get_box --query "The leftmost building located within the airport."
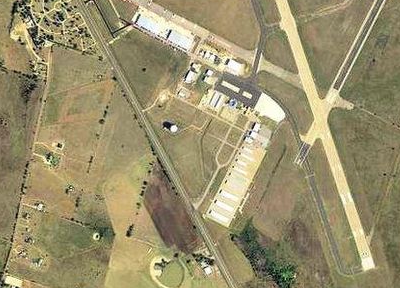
[136,16,168,38]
